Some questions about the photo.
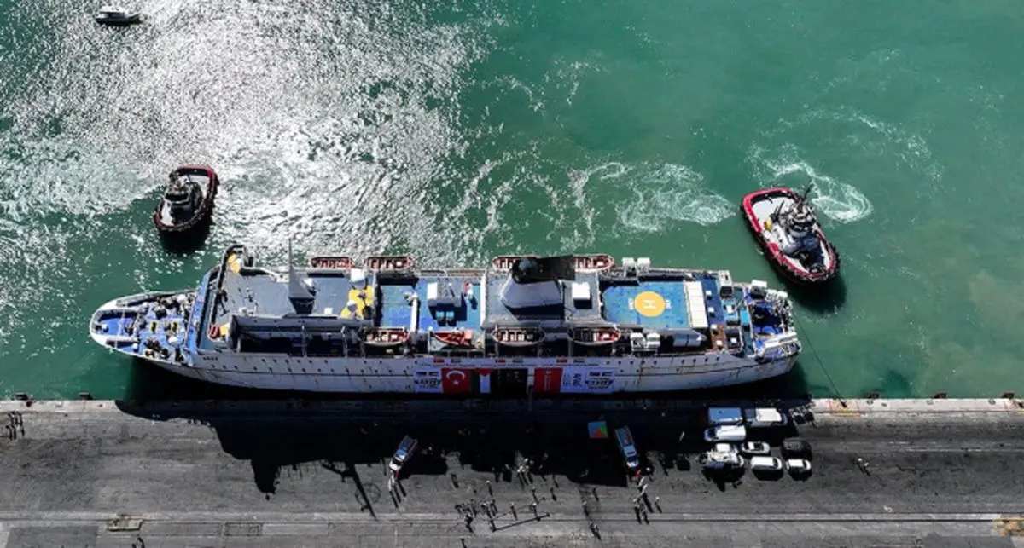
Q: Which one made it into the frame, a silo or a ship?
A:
ship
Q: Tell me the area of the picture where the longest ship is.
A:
center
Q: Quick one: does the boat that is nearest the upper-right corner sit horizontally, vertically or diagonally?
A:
diagonally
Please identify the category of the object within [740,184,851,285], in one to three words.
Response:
boat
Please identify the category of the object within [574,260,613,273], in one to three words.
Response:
boat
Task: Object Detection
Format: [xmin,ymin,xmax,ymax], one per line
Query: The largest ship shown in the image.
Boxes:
[83,233,799,395]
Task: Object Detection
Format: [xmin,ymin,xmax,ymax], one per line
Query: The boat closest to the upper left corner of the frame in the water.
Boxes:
[94,3,143,22]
